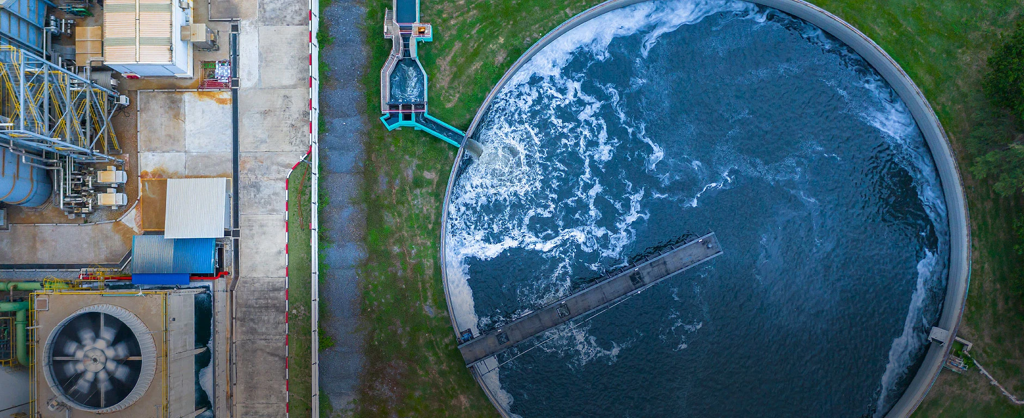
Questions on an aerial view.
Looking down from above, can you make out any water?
Yes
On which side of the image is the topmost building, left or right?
left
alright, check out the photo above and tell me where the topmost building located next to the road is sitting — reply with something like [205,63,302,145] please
[104,0,199,79]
